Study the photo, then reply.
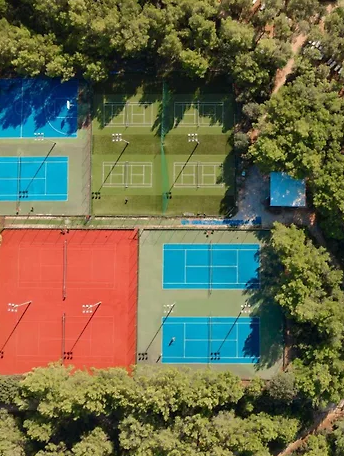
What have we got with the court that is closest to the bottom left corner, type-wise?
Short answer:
tennis court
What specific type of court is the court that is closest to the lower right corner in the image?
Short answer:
tennis court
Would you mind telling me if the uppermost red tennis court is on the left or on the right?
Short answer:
left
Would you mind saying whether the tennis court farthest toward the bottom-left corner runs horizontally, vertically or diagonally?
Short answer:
horizontally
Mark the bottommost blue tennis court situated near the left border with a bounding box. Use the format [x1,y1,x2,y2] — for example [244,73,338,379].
[0,153,68,204]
